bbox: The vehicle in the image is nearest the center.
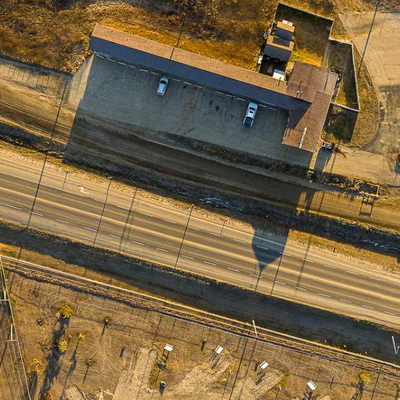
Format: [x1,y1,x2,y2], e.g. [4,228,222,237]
[244,103,257,127]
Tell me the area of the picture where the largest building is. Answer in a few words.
top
